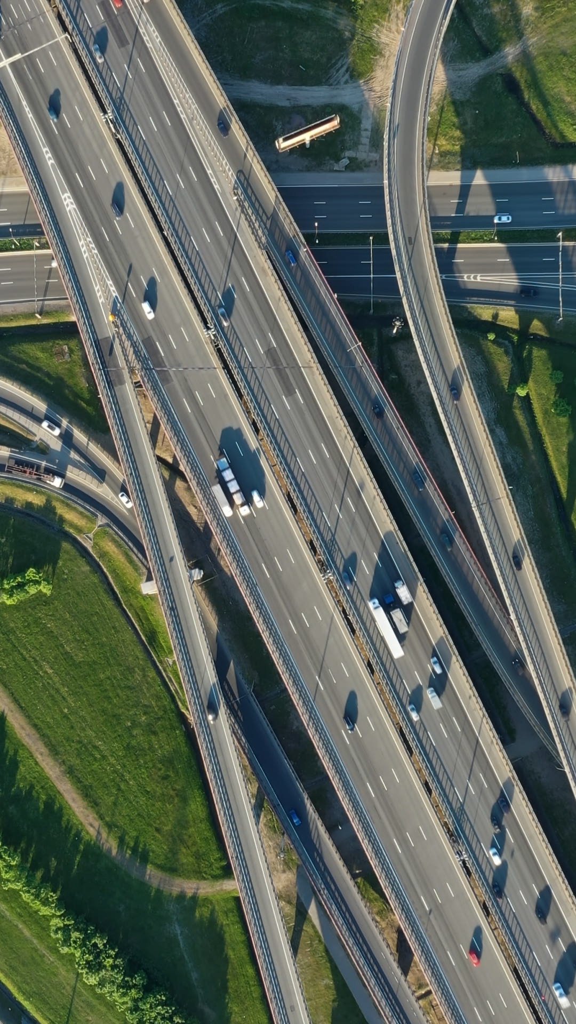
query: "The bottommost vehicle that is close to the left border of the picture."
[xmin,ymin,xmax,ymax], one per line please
[2,461,65,487]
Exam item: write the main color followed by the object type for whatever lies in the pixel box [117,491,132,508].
white car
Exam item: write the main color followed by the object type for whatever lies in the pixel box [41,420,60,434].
white car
